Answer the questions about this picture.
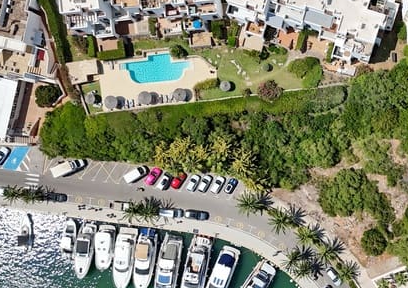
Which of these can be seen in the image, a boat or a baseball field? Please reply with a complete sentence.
There is a boat in the scene.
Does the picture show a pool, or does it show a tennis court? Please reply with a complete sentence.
There is a pool in the scene.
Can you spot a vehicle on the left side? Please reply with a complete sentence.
Yes, there is a vehicle on the left side.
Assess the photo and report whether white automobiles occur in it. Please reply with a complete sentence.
Yes, this view includes a white automobile.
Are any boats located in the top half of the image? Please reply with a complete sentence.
No, no boat appears in the top half of the image.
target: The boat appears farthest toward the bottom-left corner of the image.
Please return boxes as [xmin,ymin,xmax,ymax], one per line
[18,215,34,249]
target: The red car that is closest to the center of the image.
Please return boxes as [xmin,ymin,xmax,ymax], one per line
[171,169,187,191]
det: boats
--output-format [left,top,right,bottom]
[134,231,157,288]
[114,225,139,288]
[74,224,99,278]
[156,233,186,288]
[207,244,242,288]
[181,232,212,288]
[96,226,117,271]
[242,259,279,288]
[61,220,78,258]
[18,215,34,249]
